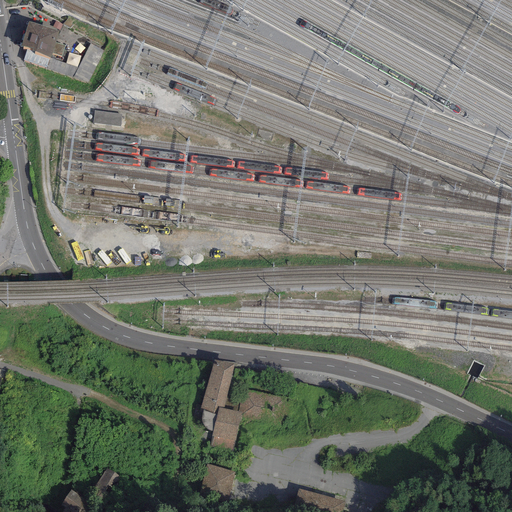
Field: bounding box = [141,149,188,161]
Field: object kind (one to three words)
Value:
rail car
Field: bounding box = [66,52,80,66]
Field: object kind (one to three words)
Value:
umbrella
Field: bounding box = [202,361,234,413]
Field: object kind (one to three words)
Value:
house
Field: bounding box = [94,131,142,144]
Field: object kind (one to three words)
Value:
rail car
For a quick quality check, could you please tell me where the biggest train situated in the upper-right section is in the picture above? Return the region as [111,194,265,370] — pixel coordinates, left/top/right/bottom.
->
[296,16,462,112]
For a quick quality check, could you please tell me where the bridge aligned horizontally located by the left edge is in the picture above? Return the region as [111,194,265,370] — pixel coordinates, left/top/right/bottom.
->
[0,266,113,318]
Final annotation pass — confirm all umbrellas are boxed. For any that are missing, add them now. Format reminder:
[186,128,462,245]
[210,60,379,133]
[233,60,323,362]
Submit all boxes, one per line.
[66,52,80,66]
[74,42,86,54]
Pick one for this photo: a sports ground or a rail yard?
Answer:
rail yard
